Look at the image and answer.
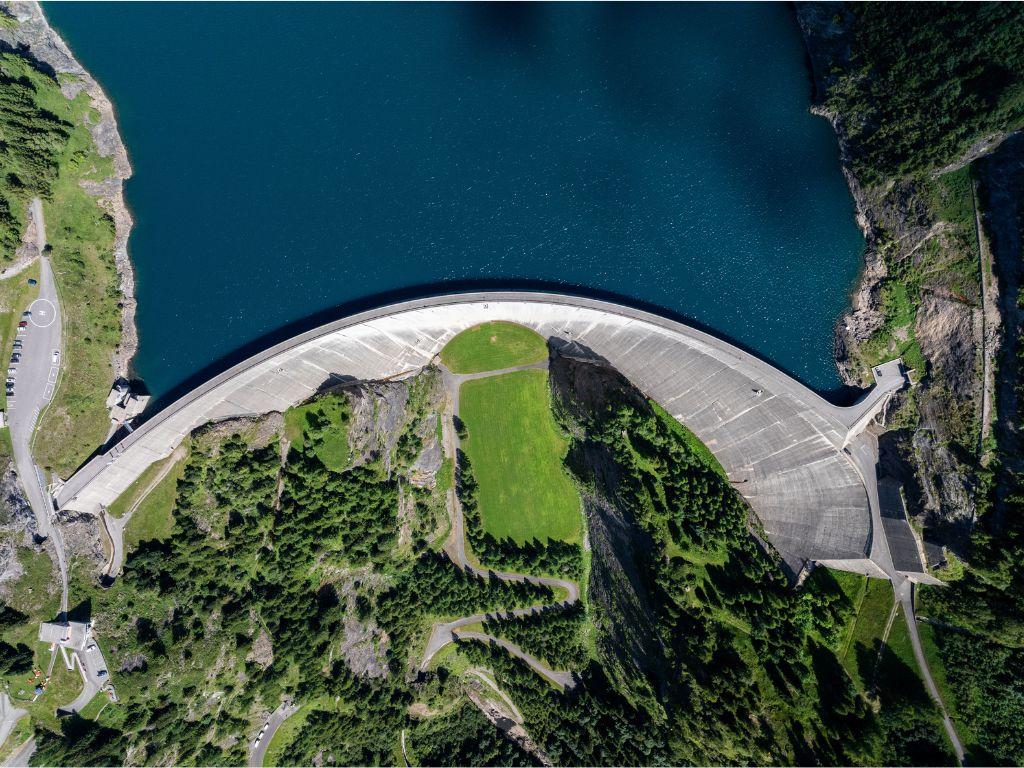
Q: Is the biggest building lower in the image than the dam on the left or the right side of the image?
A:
left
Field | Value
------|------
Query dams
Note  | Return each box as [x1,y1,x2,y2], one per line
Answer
[56,291,934,586]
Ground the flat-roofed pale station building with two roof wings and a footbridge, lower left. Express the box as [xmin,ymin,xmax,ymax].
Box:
[40,609,105,651]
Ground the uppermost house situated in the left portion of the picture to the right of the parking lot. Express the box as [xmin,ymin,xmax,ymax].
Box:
[106,385,159,425]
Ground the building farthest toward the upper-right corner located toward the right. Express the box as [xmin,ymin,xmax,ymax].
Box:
[870,358,905,393]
